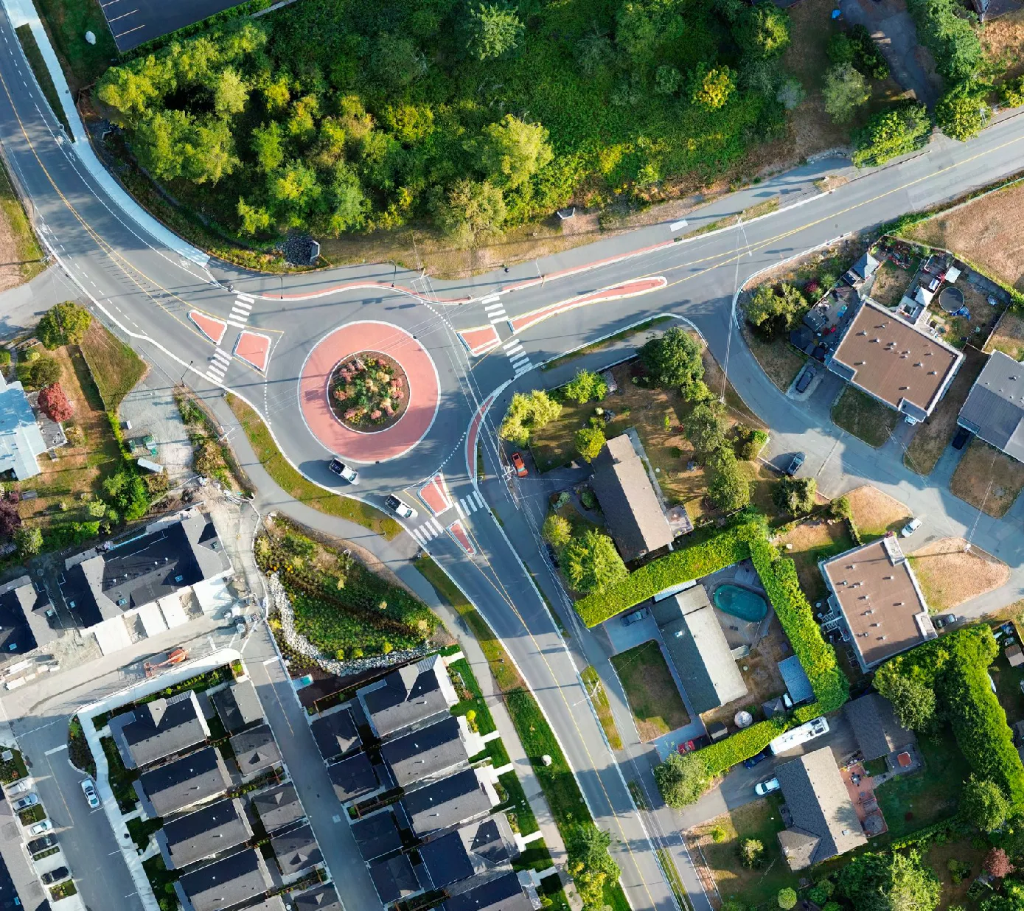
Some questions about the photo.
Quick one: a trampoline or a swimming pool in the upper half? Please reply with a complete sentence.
There is a trampoline in the upper half.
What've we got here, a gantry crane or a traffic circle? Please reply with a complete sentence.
This aerial view contains a traffic circle.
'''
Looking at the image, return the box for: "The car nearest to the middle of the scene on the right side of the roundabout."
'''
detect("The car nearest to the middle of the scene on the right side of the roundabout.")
[511,451,527,478]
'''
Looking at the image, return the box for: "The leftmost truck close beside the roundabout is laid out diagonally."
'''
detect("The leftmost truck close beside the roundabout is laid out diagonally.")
[328,457,360,485]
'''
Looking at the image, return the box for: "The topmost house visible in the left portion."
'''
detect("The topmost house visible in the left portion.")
[0,374,46,480]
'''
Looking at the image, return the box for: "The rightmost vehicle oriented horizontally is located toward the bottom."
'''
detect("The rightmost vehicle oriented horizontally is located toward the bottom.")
[931,613,961,630]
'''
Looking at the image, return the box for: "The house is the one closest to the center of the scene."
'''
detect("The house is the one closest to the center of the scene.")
[585,433,673,559]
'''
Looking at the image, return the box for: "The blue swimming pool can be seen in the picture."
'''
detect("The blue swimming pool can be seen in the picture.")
[712,584,769,622]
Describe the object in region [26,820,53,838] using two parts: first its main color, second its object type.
white car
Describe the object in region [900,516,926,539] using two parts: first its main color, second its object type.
white car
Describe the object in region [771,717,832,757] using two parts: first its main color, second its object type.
white camper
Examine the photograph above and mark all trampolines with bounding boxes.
[939,286,966,312]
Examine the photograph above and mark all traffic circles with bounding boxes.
[298,320,441,463]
